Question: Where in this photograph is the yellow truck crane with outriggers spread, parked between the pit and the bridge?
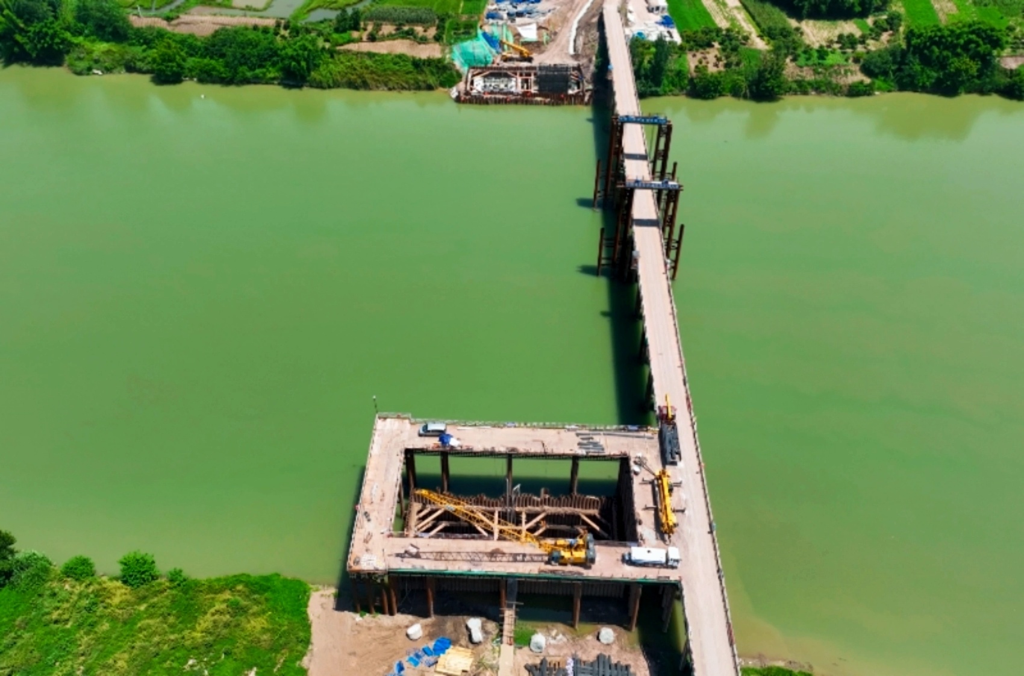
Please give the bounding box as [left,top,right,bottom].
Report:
[641,466,688,541]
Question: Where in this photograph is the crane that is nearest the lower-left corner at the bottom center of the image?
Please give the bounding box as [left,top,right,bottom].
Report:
[414,485,598,570]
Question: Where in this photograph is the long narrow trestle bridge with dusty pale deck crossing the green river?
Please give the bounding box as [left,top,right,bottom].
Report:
[604,7,746,676]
